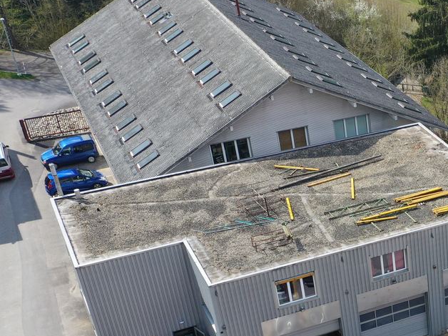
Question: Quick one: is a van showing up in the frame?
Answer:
Yes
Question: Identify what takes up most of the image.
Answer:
buildings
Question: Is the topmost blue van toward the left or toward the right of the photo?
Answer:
left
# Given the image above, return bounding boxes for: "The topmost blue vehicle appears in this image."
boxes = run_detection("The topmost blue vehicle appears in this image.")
[40,134,100,167]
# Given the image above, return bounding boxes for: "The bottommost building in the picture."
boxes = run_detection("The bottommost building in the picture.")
[41,123,448,336]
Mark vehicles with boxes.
[40,134,100,167]
[39,163,103,194]
[0,140,23,177]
